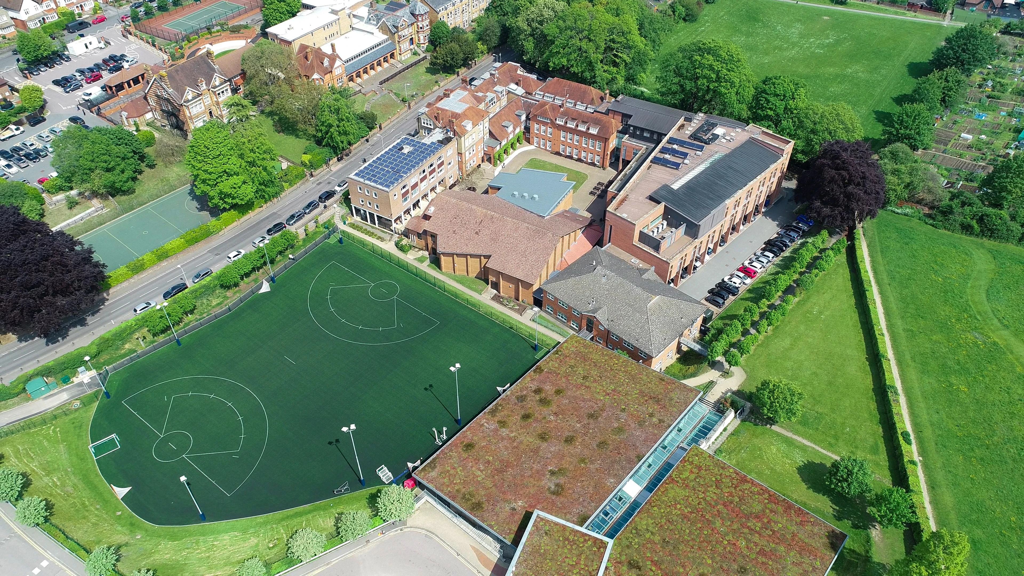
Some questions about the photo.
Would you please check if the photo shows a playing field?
Yes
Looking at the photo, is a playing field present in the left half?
Yes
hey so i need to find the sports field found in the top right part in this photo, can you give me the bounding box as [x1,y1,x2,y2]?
[631,0,954,153]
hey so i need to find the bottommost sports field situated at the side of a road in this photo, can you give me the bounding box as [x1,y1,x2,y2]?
[89,230,549,526]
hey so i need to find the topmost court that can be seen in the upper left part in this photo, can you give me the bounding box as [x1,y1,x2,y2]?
[134,0,259,40]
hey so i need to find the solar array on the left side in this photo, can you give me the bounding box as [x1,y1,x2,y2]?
[351,136,446,188]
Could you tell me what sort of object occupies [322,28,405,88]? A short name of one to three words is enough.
building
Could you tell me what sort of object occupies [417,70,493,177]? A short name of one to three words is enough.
building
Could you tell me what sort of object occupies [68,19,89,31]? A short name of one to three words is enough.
vehicle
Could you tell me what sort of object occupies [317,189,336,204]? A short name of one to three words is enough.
car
